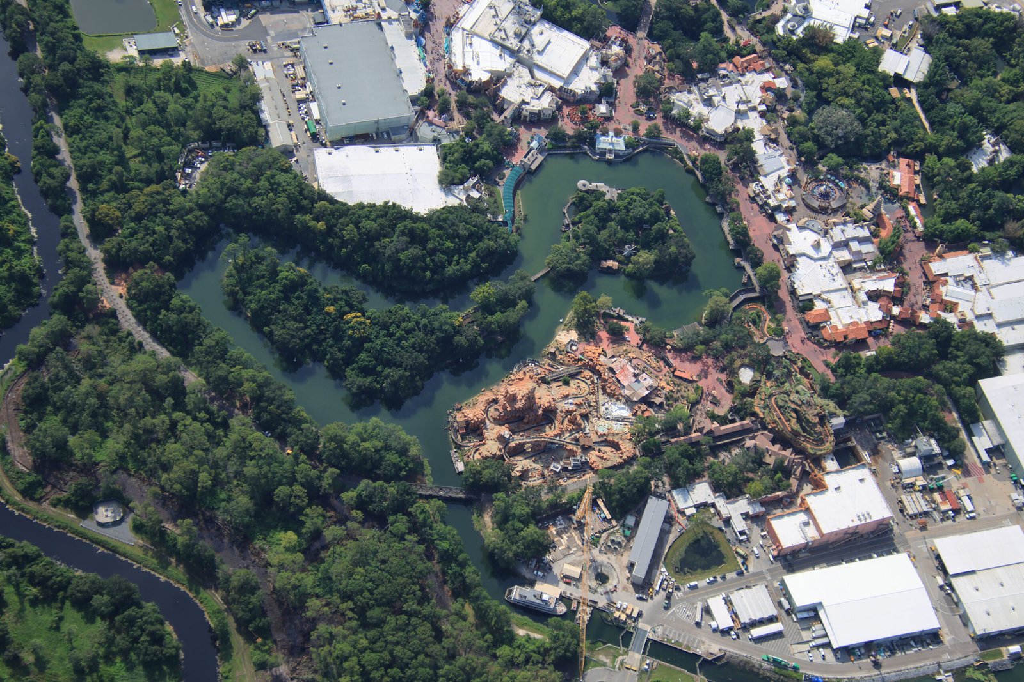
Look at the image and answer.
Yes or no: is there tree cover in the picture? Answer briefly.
Yes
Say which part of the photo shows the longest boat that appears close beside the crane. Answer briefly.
bottom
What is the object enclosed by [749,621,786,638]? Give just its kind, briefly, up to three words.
vehicle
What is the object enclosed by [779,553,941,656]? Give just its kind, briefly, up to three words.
building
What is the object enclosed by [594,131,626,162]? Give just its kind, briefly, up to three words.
house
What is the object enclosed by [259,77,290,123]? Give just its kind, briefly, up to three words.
shed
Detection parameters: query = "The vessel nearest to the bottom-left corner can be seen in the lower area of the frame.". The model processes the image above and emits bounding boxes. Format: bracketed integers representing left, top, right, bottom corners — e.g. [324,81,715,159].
[448,449,463,473]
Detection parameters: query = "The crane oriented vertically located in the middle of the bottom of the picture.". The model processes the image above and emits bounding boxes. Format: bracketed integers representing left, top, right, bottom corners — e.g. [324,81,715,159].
[572,474,596,679]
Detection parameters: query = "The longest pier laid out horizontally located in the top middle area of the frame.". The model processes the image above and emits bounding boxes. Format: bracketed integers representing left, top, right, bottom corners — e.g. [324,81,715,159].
[547,141,676,163]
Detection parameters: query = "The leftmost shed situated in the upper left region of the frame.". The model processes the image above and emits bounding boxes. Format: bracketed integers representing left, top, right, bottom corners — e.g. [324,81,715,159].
[123,31,178,61]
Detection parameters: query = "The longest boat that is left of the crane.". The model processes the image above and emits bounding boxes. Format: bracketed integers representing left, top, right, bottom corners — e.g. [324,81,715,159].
[501,584,567,617]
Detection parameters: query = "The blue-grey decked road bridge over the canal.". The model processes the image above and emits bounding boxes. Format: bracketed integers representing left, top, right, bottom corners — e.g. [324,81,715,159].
[626,615,653,666]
